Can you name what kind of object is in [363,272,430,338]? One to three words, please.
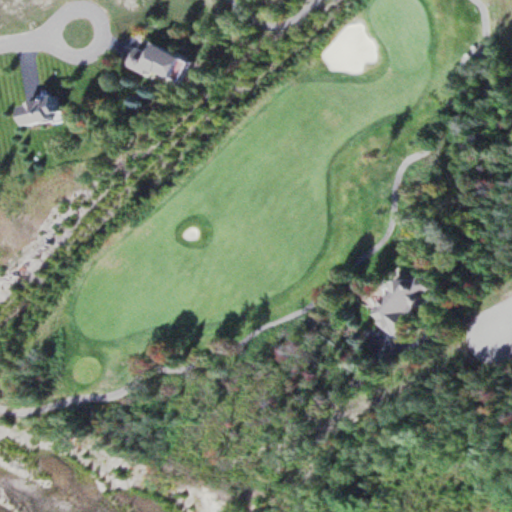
house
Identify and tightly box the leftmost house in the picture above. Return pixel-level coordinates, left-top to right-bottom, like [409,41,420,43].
[10,89,64,130]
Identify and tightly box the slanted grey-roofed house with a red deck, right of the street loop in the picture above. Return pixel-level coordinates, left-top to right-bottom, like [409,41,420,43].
[121,36,186,82]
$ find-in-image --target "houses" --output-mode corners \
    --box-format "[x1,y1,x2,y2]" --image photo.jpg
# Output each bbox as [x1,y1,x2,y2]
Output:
[363,272,430,338]
[10,89,64,130]
[121,36,186,82]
